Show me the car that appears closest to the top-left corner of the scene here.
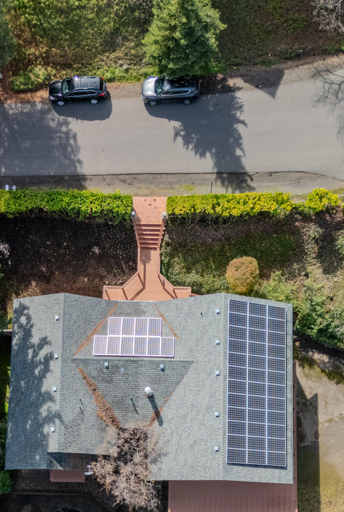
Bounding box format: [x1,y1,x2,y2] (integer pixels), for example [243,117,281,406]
[47,78,108,111]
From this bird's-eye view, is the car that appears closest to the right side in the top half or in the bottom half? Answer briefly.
top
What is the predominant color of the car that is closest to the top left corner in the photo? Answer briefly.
black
